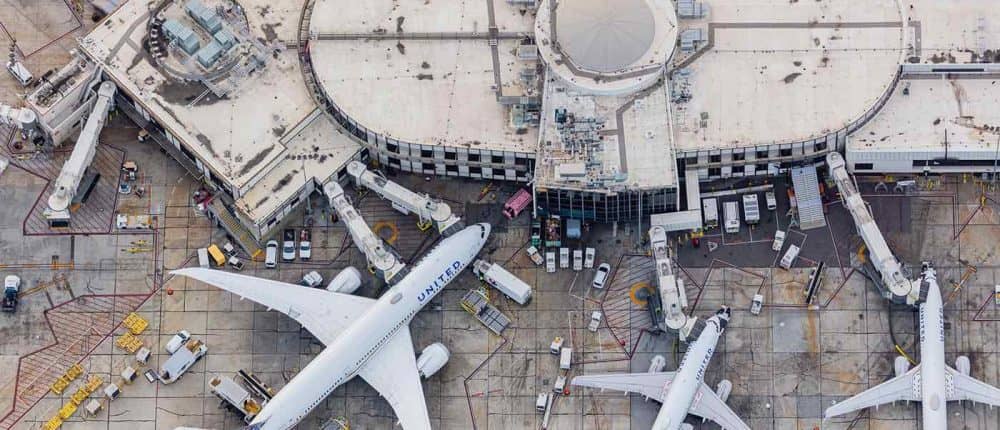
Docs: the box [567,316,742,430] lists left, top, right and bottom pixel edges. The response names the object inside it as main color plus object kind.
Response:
white airplane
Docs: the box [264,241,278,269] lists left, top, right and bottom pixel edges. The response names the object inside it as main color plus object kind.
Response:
white vehicle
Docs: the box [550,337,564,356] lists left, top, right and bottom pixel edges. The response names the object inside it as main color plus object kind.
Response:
white work vehicle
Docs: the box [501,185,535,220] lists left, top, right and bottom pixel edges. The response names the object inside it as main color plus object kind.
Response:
pink truck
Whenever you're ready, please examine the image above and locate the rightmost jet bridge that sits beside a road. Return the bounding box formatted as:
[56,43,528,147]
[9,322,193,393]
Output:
[824,151,927,308]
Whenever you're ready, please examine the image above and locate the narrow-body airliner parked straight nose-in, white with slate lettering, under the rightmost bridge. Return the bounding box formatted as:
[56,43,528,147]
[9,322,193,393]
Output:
[823,277,1000,430]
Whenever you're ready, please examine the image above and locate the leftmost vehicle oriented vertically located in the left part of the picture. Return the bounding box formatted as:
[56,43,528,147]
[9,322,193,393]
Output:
[3,276,20,310]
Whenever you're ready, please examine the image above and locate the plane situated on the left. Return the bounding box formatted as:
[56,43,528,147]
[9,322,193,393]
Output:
[165,223,491,430]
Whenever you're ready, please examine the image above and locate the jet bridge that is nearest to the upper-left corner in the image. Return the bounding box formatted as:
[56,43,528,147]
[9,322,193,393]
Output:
[0,104,39,141]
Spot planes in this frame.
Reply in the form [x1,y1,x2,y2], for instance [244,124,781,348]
[567,316,742,430]
[823,277,1000,430]
[165,223,491,430]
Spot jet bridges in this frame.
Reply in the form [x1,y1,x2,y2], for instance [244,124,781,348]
[322,179,410,289]
[47,82,117,235]
[648,226,708,344]
[0,104,39,141]
[345,159,465,241]
[824,151,927,308]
